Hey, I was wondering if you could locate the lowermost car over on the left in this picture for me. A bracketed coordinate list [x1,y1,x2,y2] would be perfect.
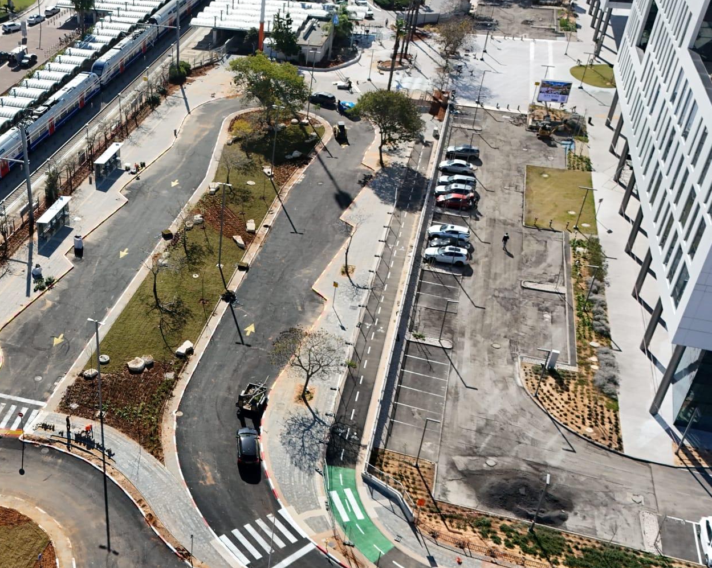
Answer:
[234,430,263,473]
